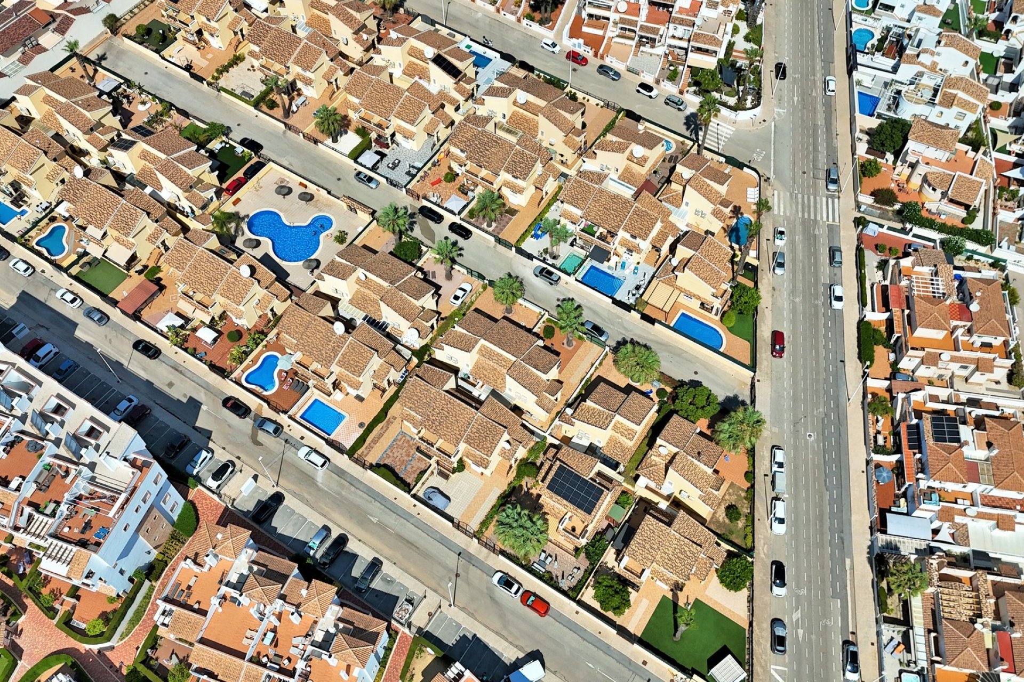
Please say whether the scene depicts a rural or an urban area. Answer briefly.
urban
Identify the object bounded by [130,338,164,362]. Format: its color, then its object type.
black car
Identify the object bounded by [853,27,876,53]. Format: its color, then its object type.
blue swimming pool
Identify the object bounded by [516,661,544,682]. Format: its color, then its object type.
white vehicle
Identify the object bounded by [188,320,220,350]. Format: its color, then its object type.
white gazebo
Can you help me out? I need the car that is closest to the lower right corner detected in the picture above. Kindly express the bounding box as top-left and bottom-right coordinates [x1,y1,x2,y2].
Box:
[841,644,861,682]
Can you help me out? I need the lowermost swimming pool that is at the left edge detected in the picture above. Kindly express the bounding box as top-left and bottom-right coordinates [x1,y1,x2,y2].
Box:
[33,223,69,259]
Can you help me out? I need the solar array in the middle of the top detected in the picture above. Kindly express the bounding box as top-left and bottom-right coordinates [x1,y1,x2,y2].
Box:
[431,53,463,79]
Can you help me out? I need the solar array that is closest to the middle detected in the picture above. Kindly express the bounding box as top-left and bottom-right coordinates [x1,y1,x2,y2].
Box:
[546,464,604,515]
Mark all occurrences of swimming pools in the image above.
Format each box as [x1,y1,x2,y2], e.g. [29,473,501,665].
[672,314,725,349]
[579,262,628,298]
[726,214,756,248]
[853,0,872,9]
[296,396,349,439]
[249,352,279,394]
[858,91,882,117]
[468,48,494,69]
[0,198,31,227]
[853,27,876,53]
[242,208,336,265]
[558,249,584,272]
[33,223,69,259]
[663,137,675,153]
